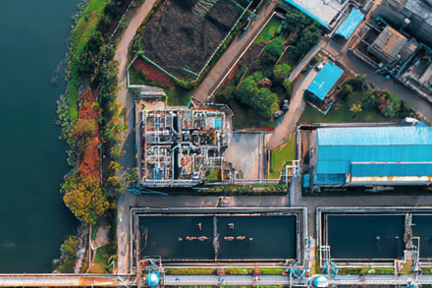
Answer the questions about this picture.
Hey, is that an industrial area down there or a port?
industrial area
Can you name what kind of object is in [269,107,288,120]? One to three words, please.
vehicle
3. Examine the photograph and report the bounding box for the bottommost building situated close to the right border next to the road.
[305,125,432,189]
